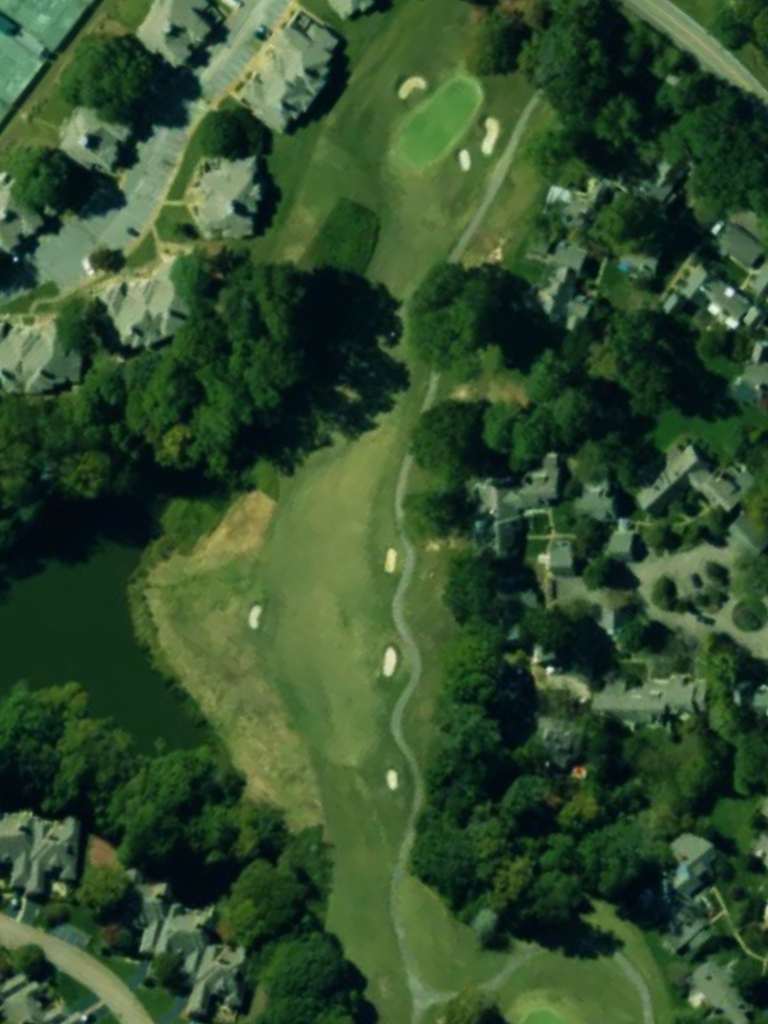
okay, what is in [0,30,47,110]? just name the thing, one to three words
tennis court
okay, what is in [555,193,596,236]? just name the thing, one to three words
house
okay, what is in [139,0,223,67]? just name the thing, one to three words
building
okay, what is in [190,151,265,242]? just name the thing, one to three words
building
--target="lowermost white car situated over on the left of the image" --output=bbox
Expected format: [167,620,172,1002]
[83,258,96,274]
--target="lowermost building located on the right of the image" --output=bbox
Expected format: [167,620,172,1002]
[691,955,750,1024]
